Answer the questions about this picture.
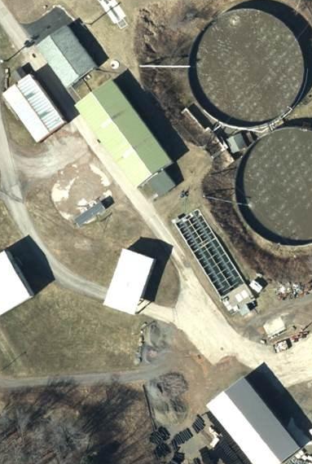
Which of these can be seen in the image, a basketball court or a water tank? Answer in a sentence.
Of the two, only a water tank appears.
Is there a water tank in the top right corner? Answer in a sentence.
Yes, I can see a water tank in the top right corner.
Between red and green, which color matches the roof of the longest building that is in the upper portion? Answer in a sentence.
The roof of the longest building that is in the upper portion looks green in the image.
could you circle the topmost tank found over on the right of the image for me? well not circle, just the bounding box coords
[188,8,310,128]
